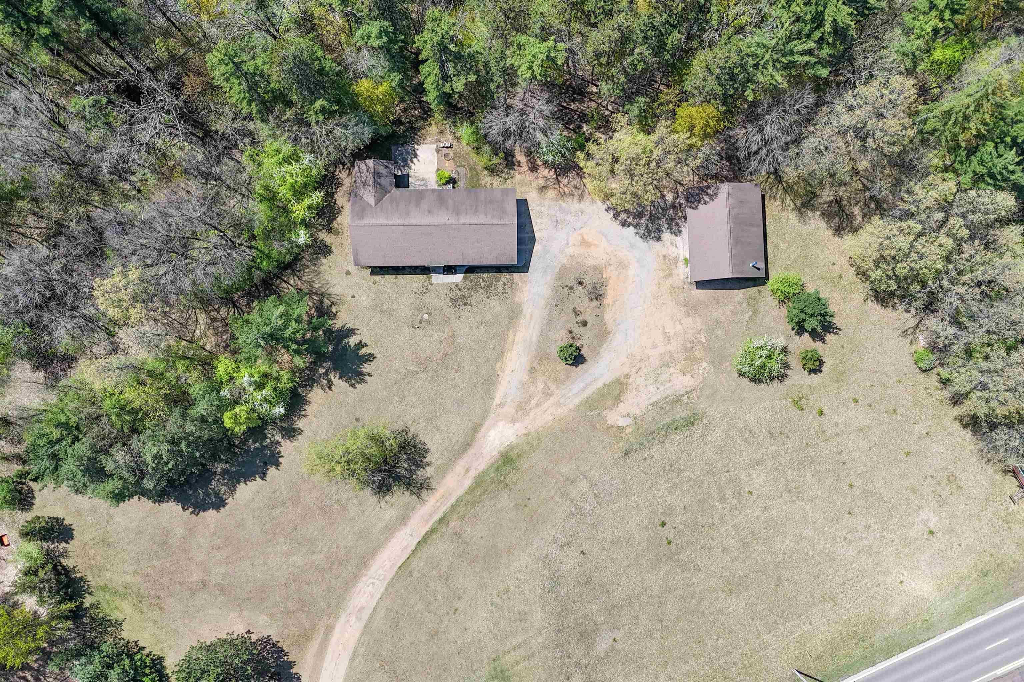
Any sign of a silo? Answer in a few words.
No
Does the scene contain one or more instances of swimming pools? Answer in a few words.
No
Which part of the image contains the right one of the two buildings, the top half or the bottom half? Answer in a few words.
top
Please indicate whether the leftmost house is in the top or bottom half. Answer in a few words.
top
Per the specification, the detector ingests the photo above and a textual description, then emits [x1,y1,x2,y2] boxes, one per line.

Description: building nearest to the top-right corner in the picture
[681,182,766,284]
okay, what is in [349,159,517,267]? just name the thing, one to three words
house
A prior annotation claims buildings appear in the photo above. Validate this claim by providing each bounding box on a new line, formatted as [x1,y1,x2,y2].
[681,182,766,284]
[349,159,517,267]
